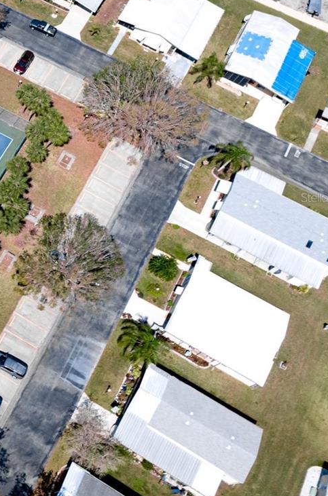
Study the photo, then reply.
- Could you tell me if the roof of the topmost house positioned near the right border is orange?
No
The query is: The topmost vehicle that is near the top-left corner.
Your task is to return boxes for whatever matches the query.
[25,18,59,37]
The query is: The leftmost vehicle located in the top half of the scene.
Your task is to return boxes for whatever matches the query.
[14,50,35,72]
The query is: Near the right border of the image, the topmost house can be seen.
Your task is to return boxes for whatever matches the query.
[220,10,320,101]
